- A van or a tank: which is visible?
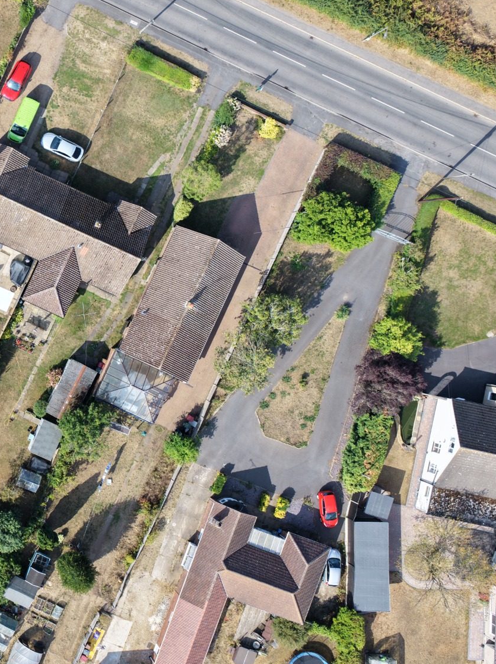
van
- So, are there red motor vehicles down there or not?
Yes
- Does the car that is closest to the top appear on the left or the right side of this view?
left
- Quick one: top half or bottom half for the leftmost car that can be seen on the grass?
top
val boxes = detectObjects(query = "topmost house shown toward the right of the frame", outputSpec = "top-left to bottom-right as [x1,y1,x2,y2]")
[419,396,496,498]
